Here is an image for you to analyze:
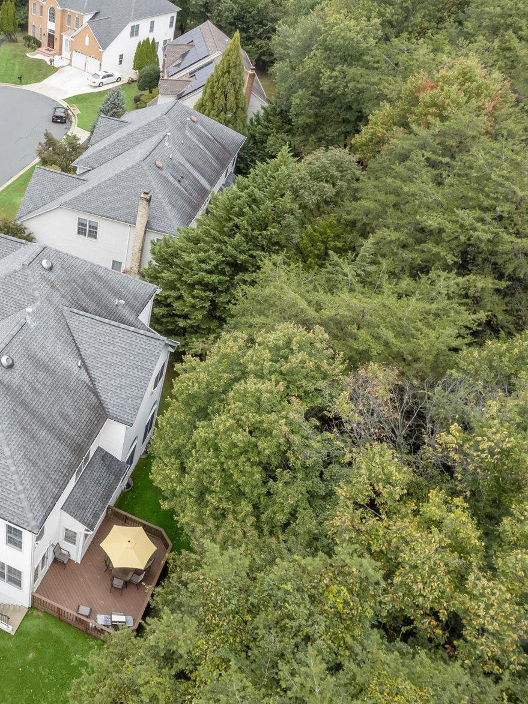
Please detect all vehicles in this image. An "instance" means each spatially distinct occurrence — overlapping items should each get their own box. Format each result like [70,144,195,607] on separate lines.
[88,69,124,85]
[51,103,70,121]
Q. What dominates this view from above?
trees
